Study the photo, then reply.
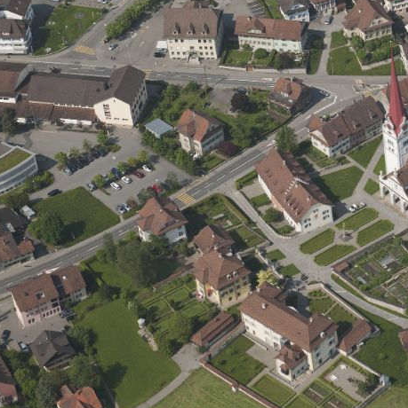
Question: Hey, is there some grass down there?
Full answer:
Yes, the picture does contain grass.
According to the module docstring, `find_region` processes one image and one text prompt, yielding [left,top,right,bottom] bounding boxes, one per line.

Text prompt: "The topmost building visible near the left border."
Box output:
[0,0,42,32]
